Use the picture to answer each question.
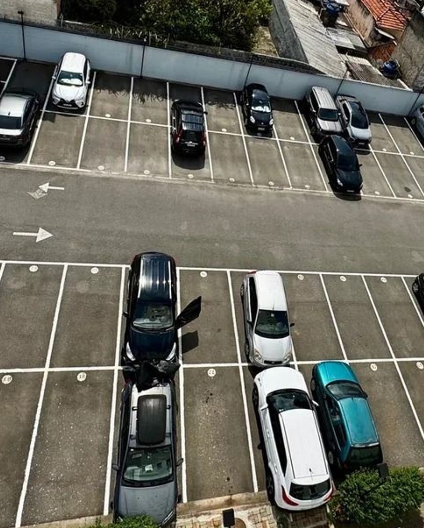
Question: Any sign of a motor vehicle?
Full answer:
Yes, there's a motor vehicle down there.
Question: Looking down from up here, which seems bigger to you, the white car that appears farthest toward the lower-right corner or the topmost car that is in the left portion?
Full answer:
The white car that appears farthest toward the lower-right corner is bigger than the topmost car that is in the left portion.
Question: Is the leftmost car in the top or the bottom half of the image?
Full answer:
Seen from above, the leftmost car lies in the top half of the view.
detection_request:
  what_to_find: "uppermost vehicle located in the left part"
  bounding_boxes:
[50,54,89,108]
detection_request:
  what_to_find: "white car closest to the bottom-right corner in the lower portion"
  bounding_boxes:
[253,368,328,508]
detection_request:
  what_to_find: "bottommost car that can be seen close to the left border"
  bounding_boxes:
[0,90,37,147]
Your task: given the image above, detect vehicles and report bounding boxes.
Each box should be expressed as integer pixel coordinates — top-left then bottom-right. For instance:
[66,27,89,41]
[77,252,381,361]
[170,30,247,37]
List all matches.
[241,274,294,367]
[320,139,360,191]
[50,54,89,108]
[172,101,207,152]
[242,87,274,129]
[413,107,424,136]
[335,99,371,146]
[0,90,37,147]
[311,360,380,470]
[305,88,342,138]
[125,253,198,377]
[253,368,328,508]
[114,380,180,526]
